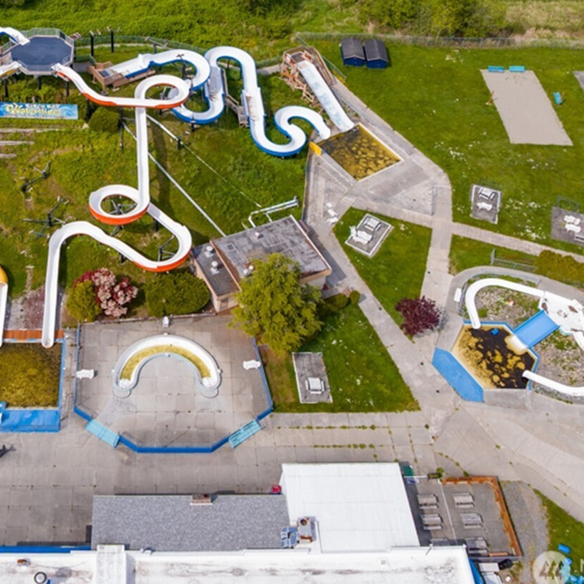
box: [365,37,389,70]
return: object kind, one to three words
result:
shed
